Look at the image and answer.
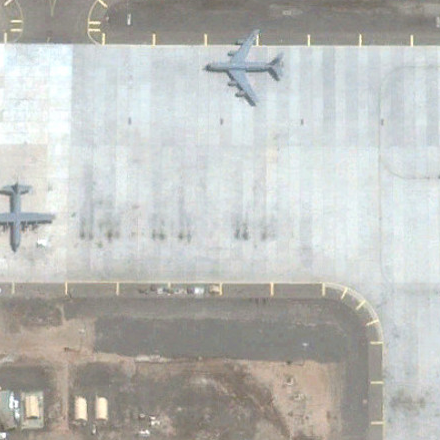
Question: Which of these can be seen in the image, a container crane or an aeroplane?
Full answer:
Visible in the photo is an aeroplane.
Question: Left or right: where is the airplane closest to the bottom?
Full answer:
The airplane closest to the bottom sits on the left side.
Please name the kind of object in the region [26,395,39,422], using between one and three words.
tent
